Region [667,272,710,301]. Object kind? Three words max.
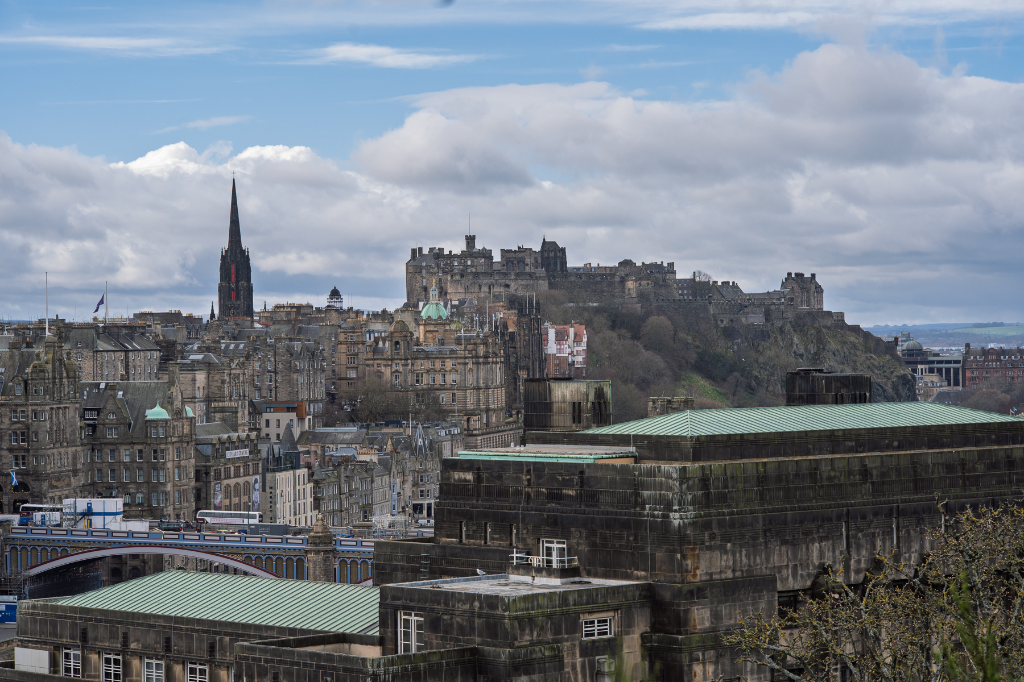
building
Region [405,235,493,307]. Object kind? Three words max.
building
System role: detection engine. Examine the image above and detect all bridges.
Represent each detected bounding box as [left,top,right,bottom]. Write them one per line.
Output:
[0,515,435,624]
